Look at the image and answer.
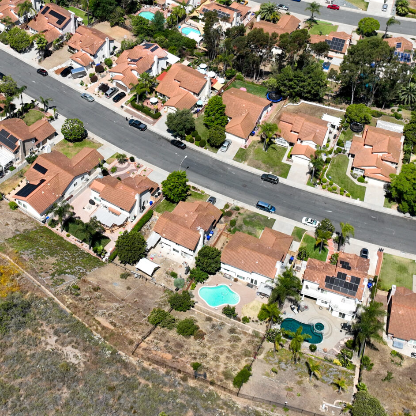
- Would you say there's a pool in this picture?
Yes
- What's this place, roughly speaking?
residential area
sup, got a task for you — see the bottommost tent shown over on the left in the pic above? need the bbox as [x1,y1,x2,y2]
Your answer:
[135,256,160,284]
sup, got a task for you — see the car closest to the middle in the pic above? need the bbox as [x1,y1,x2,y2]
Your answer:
[203,191,220,205]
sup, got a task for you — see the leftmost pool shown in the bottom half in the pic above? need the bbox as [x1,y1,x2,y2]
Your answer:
[200,282,241,308]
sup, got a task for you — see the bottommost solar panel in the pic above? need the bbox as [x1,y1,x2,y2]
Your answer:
[319,273,366,299]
